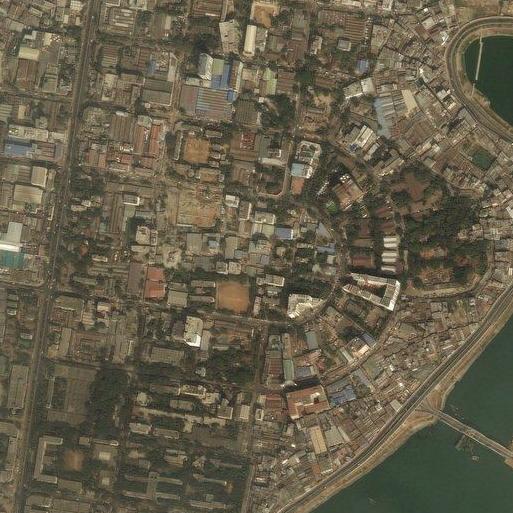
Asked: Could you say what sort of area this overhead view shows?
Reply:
residential area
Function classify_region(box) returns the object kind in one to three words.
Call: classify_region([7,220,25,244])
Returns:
shed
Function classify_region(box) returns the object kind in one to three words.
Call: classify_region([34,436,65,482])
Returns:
building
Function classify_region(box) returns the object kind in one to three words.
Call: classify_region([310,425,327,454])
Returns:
shed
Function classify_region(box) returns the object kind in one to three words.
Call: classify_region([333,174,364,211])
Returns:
building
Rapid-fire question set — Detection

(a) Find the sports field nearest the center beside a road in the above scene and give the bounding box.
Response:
[215,281,247,311]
